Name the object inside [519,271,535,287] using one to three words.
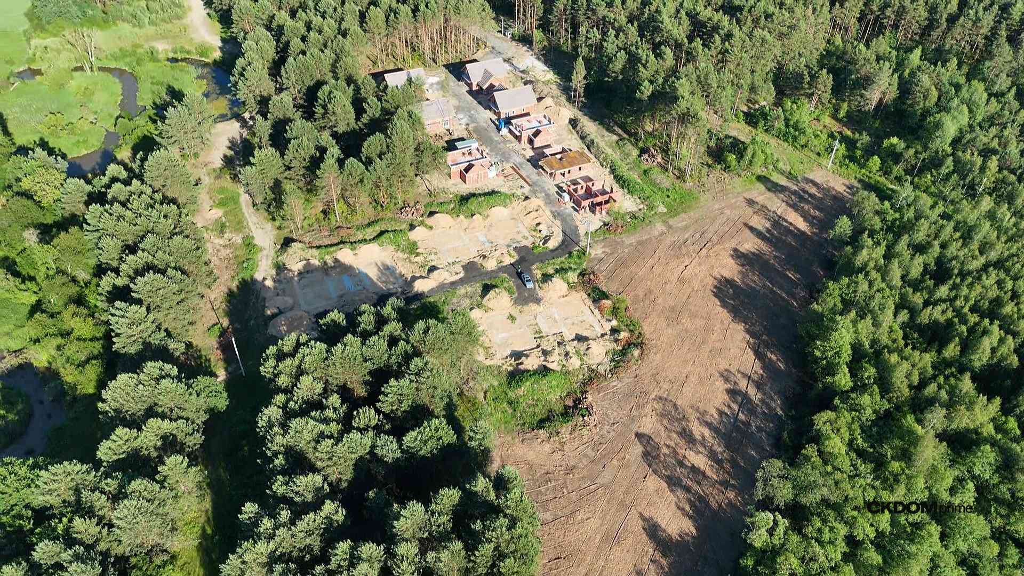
car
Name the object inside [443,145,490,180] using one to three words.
house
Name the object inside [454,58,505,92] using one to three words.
house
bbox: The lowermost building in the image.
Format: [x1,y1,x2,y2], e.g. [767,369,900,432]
[567,177,622,214]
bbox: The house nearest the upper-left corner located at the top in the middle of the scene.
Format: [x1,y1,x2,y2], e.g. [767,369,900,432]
[381,67,427,99]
